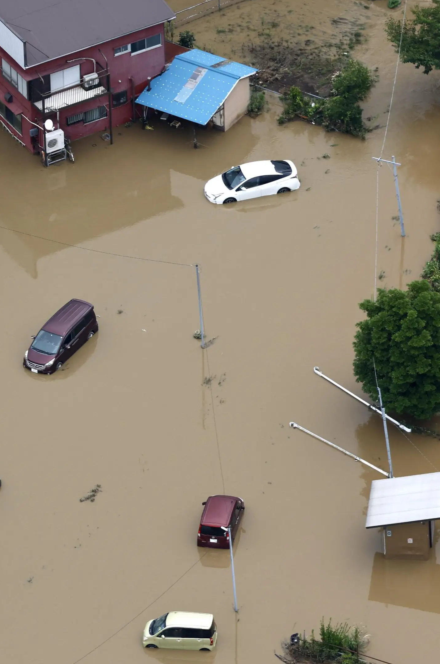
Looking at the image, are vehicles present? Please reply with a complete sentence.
Yes, there is a vehicle in the image.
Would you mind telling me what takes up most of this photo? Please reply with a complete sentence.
What you mostly see from above here is water.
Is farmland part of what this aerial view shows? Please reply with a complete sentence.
No, no farmland is visible.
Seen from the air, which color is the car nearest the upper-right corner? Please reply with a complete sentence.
From above, the car nearest the upper-right corner appears white.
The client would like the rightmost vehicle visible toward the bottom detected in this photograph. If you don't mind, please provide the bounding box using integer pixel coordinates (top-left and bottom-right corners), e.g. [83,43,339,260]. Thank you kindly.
[198,497,241,551]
